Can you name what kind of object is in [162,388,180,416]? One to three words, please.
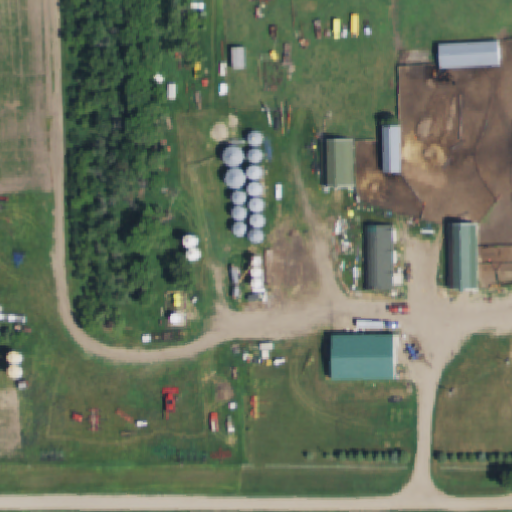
work vehicle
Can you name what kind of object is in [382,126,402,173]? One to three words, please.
shed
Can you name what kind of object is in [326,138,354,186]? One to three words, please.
barn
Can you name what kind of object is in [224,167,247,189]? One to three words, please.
silo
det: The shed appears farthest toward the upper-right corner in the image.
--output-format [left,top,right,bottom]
[438,40,500,70]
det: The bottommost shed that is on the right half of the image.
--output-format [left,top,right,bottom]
[330,333,395,380]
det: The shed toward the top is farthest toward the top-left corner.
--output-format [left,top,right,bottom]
[232,46,245,70]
